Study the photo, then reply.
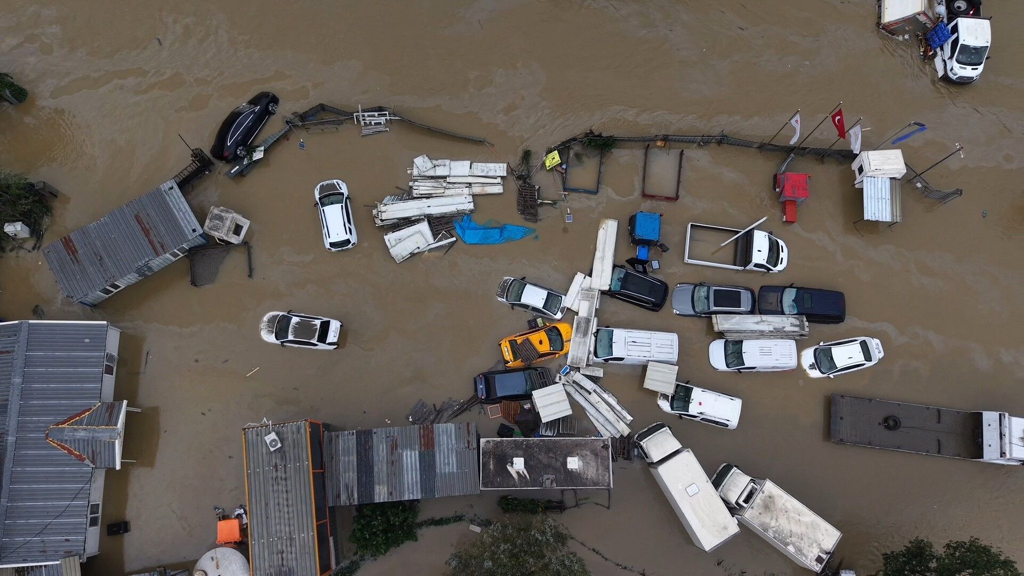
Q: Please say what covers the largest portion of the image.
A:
water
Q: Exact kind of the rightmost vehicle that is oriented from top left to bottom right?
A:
truck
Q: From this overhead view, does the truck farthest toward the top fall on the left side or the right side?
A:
right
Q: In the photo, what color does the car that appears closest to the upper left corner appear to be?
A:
black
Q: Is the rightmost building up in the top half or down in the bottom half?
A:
top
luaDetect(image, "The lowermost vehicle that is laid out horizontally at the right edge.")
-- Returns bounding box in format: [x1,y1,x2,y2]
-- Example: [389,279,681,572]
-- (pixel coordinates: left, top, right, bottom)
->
[829,393,1024,463]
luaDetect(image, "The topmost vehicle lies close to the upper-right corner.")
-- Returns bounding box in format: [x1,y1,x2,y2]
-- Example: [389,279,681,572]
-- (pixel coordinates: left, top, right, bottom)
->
[943,0,997,91]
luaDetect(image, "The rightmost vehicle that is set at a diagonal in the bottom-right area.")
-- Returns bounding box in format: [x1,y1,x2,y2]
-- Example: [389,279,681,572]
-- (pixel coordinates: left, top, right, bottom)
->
[706,456,841,573]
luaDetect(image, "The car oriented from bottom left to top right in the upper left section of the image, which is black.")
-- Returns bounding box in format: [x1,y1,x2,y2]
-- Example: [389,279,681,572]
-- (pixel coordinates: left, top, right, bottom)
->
[208,93,271,161]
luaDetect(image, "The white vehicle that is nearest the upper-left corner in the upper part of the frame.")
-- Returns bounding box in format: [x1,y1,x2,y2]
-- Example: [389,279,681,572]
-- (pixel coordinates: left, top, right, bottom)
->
[313,179,359,255]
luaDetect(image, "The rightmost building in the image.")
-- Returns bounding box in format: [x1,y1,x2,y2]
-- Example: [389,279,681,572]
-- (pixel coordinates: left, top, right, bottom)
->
[855,149,907,181]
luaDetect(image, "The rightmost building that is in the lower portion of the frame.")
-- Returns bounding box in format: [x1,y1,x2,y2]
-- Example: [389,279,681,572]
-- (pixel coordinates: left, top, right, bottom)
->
[480,437,614,490]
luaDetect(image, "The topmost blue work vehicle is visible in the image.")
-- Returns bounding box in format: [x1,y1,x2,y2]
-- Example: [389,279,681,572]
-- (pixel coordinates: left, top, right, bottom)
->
[626,214,662,263]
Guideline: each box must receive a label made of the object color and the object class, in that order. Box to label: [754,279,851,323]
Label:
black car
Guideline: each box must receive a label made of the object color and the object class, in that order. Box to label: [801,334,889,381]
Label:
white car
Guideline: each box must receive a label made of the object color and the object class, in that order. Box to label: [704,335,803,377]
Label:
white van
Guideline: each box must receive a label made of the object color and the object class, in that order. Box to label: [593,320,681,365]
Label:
white van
